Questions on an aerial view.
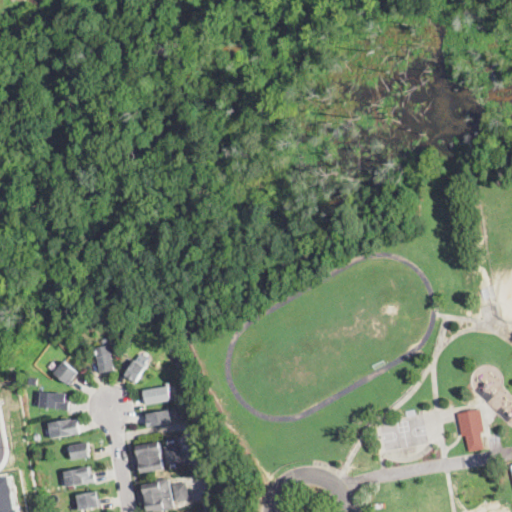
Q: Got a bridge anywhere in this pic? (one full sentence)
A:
No, the scene contains no bridge.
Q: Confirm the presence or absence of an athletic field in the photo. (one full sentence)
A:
Yes, there's an athletic field here.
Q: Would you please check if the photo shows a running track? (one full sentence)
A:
Yes, looking at the shot, I can spot a running track.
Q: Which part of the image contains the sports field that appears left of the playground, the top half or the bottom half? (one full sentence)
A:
The sports field that appears left of the playground is in the bottom half of the image.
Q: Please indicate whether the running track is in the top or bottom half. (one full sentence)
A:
Seen from above, the running track lies in the bottom half of the view.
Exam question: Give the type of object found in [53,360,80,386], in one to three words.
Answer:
house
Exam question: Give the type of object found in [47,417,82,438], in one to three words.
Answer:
house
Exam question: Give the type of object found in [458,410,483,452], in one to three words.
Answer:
building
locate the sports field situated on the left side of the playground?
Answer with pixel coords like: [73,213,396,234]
[231,258,432,416]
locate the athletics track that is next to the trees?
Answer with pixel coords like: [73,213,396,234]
[226,253,436,422]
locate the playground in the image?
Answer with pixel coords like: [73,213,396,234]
[470,362,512,426]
